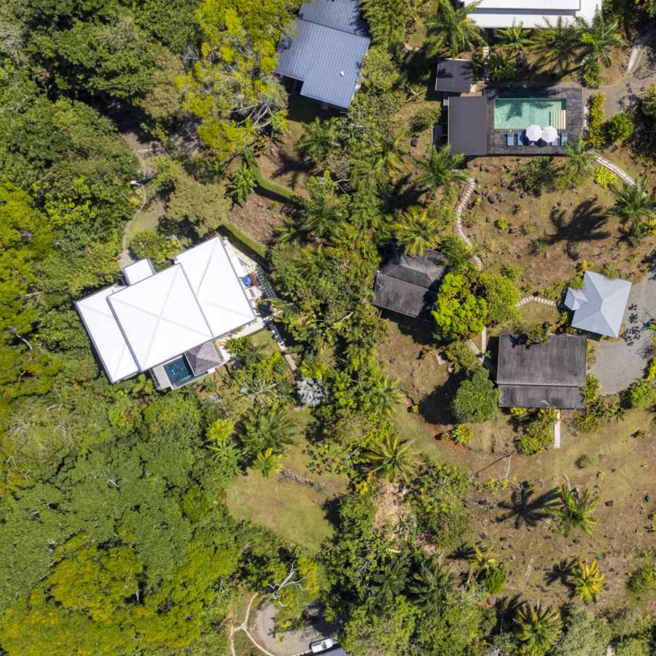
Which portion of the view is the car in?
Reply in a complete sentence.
You can find the car in the bottom area of the picture.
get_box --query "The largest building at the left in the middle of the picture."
[75,236,256,384]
